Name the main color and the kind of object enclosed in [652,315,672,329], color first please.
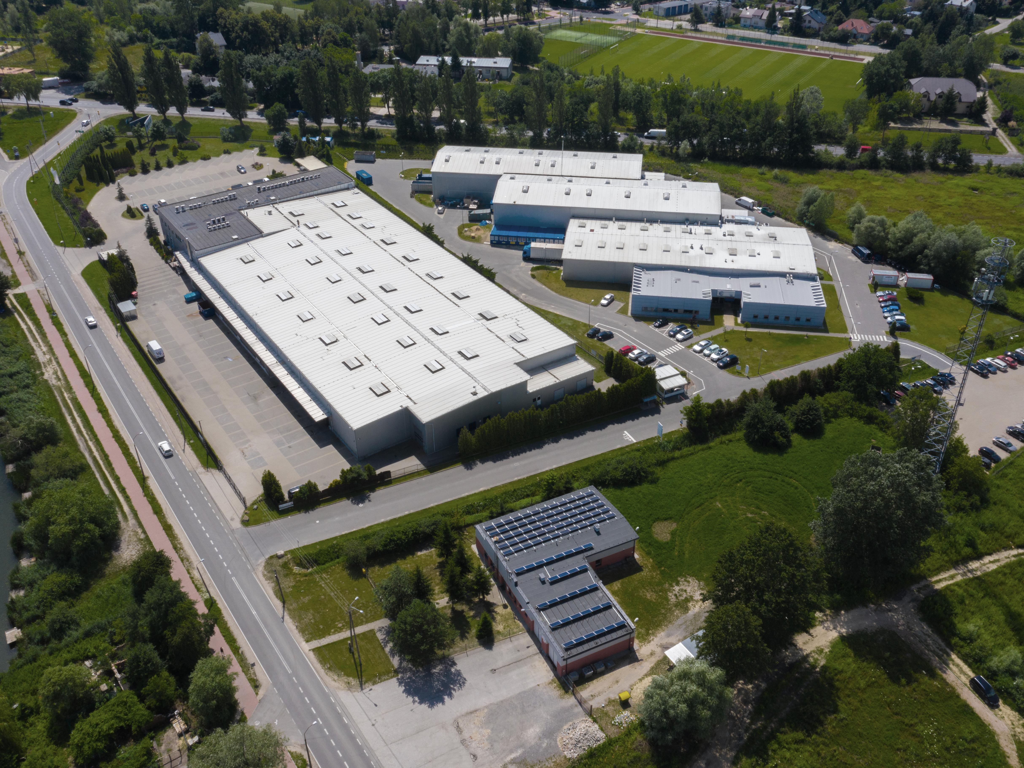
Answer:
black car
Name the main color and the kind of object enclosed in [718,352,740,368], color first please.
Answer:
black car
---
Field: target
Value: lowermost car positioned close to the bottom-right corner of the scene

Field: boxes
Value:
[968,676,1002,709]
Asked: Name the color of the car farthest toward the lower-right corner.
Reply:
black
